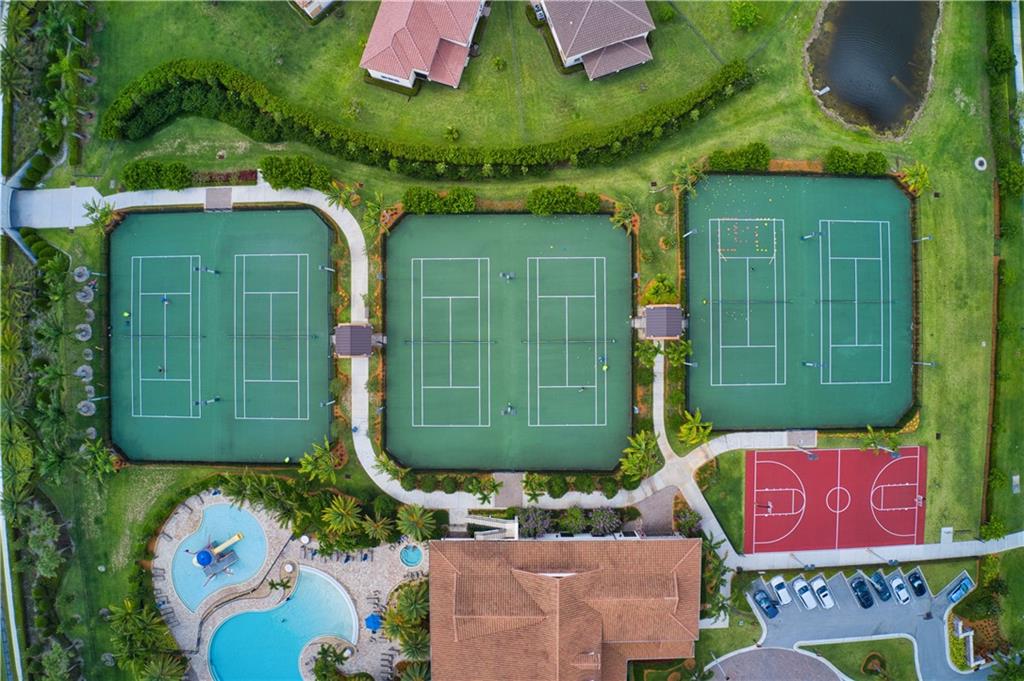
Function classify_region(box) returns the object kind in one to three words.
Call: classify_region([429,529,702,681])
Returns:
building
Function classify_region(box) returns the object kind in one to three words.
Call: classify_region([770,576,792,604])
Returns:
car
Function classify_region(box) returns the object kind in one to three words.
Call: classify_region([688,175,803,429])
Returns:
tennis court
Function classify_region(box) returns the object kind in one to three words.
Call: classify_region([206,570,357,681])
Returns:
swimming pool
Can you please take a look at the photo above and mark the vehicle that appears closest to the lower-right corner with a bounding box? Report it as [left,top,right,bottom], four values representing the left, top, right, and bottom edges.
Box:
[946,577,972,603]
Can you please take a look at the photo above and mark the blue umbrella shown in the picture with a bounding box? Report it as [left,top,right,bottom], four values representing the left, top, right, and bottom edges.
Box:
[366,612,384,630]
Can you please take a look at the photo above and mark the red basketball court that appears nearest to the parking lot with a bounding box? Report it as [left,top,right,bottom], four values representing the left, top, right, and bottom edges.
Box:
[744,446,928,553]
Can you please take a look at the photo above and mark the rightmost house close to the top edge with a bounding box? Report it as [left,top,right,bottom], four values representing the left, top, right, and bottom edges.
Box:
[541,0,656,86]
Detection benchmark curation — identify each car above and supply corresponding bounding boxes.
[905,572,927,597]
[792,578,818,609]
[946,577,972,603]
[869,572,892,601]
[810,577,835,608]
[888,576,911,605]
[770,576,792,604]
[755,590,777,618]
[849,577,876,609]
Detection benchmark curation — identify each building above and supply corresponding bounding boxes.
[360,0,481,93]
[429,529,702,681]
[642,304,682,341]
[335,323,376,359]
[298,0,335,17]
[541,0,656,86]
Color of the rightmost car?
blue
